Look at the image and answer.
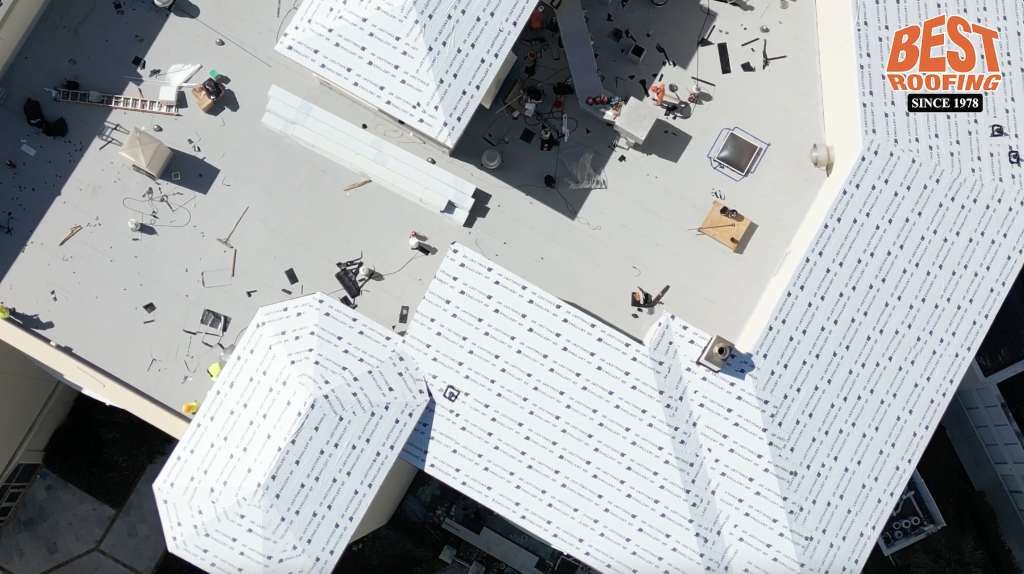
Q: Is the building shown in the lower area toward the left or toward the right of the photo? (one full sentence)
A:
The building shown in the lower area is on the left side of the image.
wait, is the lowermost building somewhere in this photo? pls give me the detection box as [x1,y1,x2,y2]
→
[155,292,429,574]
